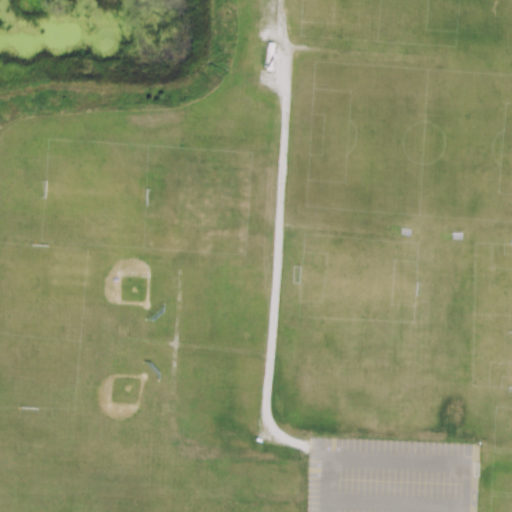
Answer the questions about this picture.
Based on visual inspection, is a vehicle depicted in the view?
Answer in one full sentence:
No, I find no vehicle anywhere in the image.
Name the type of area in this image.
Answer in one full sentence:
This looks like a sports ground.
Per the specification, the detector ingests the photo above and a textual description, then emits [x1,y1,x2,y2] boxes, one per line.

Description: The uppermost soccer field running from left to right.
[301,0,460,48]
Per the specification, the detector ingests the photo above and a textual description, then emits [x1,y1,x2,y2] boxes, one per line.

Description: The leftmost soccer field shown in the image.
[0,243,88,411]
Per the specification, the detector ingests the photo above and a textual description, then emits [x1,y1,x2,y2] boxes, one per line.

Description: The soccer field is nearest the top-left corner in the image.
[42,138,148,250]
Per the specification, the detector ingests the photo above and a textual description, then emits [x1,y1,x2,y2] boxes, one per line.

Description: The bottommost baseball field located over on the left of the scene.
[98,373,148,420]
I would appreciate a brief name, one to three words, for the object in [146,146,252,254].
soccer field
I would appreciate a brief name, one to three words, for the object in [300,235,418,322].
soccer field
